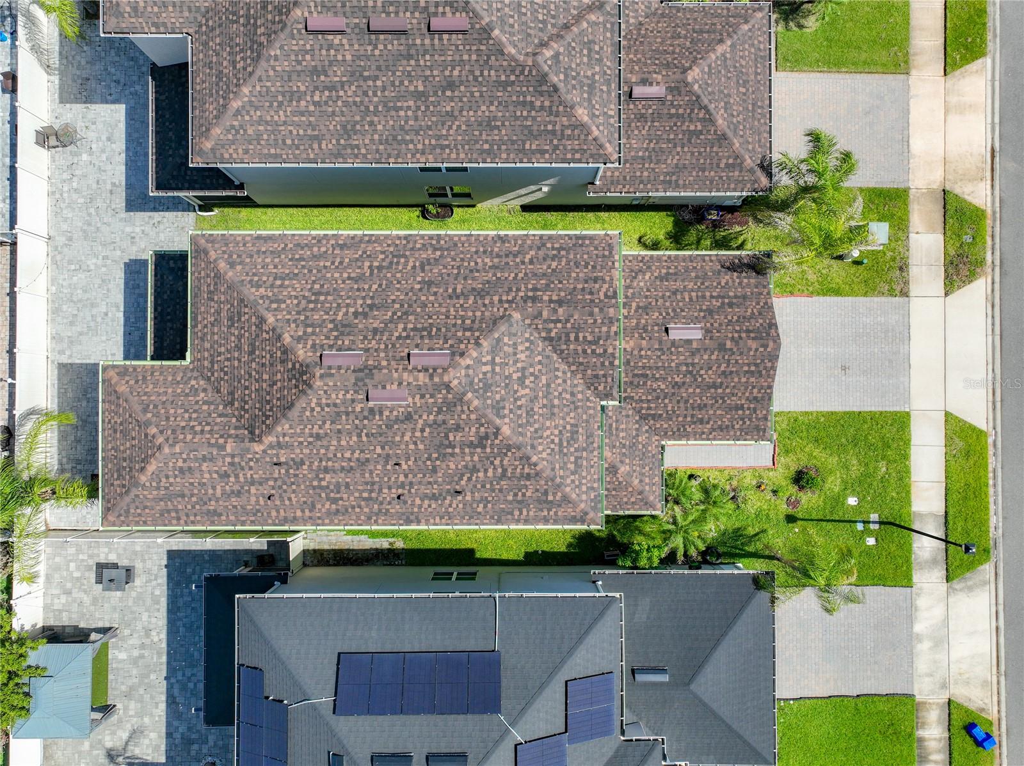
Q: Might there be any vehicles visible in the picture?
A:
No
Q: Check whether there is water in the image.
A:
No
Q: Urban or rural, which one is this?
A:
urban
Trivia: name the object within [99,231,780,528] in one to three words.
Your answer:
house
